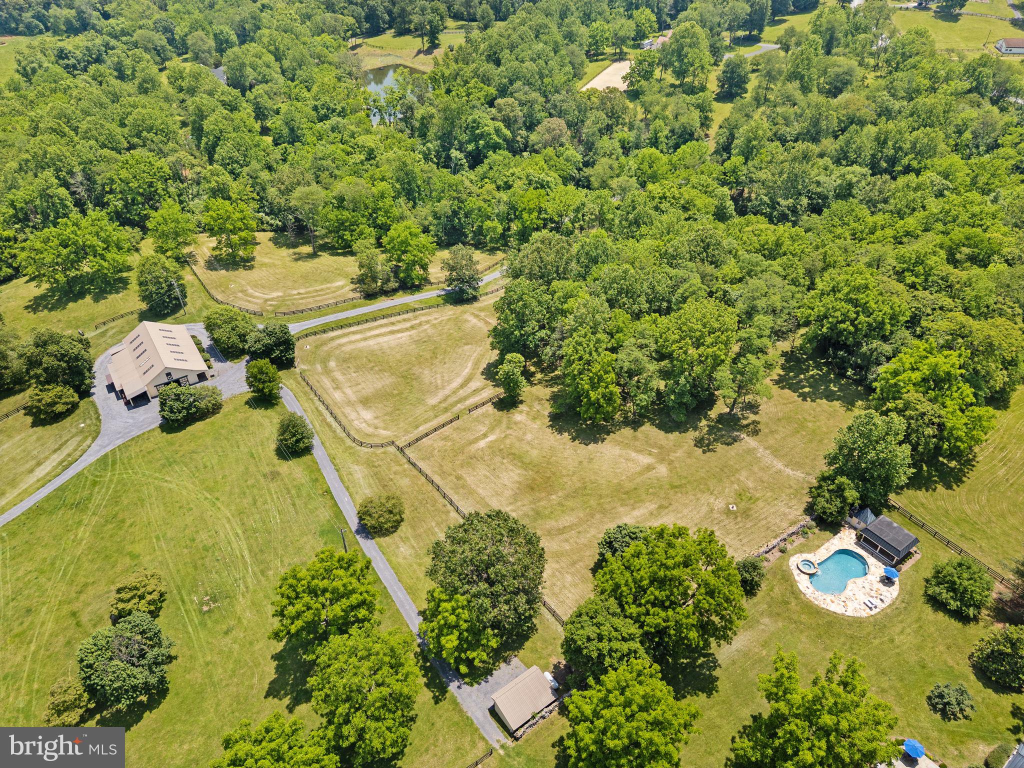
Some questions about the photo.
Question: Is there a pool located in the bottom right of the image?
Yes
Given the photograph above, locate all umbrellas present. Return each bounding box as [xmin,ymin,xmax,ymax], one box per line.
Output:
[904,740,924,760]
[883,566,899,580]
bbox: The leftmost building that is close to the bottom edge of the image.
[492,665,558,730]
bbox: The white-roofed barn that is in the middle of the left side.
[108,320,210,409]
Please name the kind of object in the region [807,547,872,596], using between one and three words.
swimming pool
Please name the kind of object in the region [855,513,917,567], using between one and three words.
building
